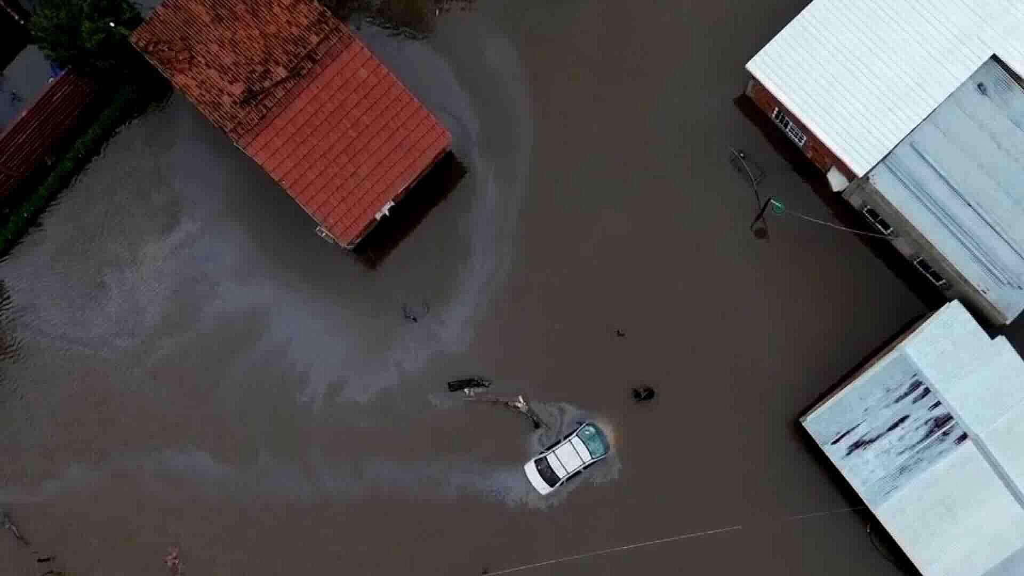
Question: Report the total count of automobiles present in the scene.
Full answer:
The count comes to 1 automobile.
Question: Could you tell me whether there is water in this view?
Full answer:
Yes, some water is visible.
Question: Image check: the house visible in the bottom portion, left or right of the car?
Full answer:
To the right of the car is where the house visible in the bottom portion appears.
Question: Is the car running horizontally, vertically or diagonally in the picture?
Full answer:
From this overhead view, the car appears to run diagonally.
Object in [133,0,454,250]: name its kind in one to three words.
house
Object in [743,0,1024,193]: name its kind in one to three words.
house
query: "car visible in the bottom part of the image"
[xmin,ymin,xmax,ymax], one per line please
[524,419,611,494]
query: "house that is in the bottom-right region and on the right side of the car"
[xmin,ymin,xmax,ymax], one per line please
[799,298,1024,576]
